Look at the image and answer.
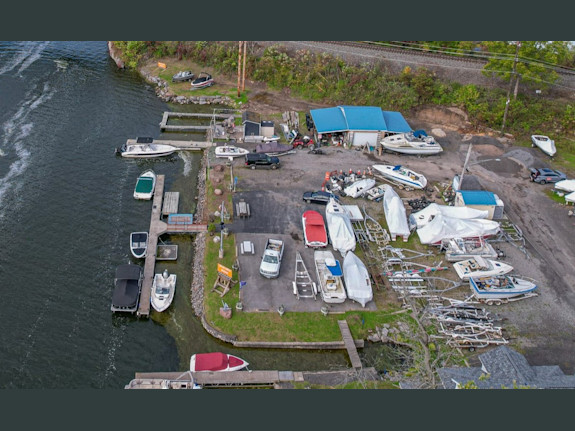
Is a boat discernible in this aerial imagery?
Yes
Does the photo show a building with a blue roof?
Yes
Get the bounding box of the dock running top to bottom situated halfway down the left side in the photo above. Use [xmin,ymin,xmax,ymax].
[138,174,164,319]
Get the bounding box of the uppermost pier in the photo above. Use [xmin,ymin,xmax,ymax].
[160,112,230,133]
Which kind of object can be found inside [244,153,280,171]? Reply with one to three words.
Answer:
car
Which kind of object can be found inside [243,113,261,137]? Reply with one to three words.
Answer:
shed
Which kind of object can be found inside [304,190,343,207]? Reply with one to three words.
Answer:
car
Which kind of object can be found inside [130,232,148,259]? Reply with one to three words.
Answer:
boat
